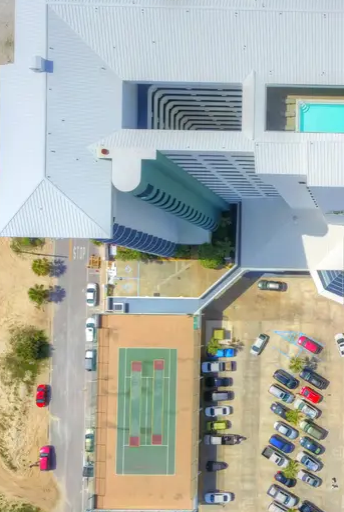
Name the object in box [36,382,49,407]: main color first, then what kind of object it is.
red vehicle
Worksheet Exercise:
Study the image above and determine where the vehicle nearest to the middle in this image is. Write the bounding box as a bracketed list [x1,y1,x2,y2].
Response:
[85,282,99,306]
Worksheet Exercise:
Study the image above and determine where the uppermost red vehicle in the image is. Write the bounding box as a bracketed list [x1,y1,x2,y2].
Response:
[296,334,322,353]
